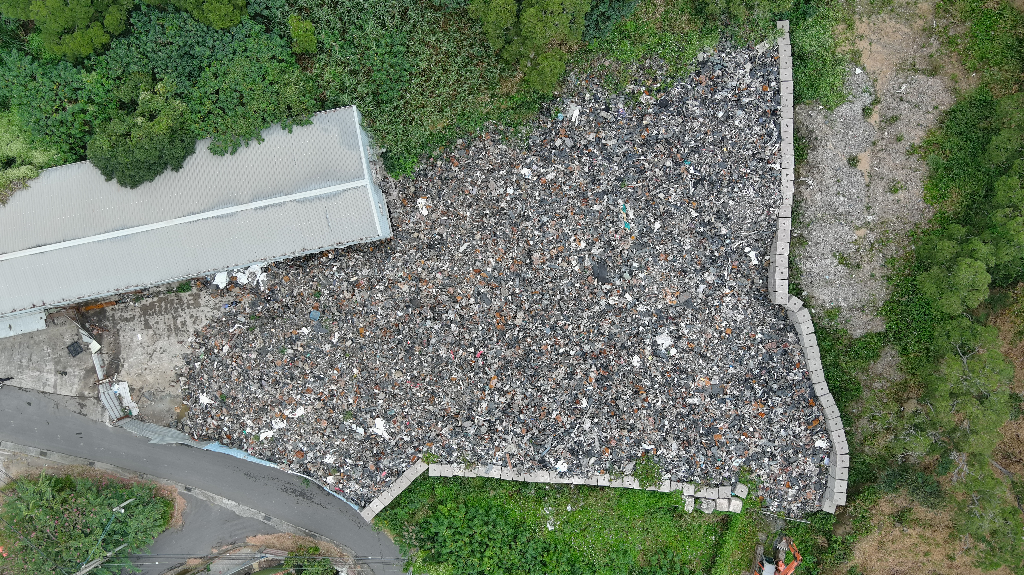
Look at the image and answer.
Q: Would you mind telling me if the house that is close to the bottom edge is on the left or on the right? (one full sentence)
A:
The house that is close to the bottom edge sits on the left side.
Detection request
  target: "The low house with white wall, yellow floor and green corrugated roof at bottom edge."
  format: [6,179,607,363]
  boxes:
[228,546,294,575]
